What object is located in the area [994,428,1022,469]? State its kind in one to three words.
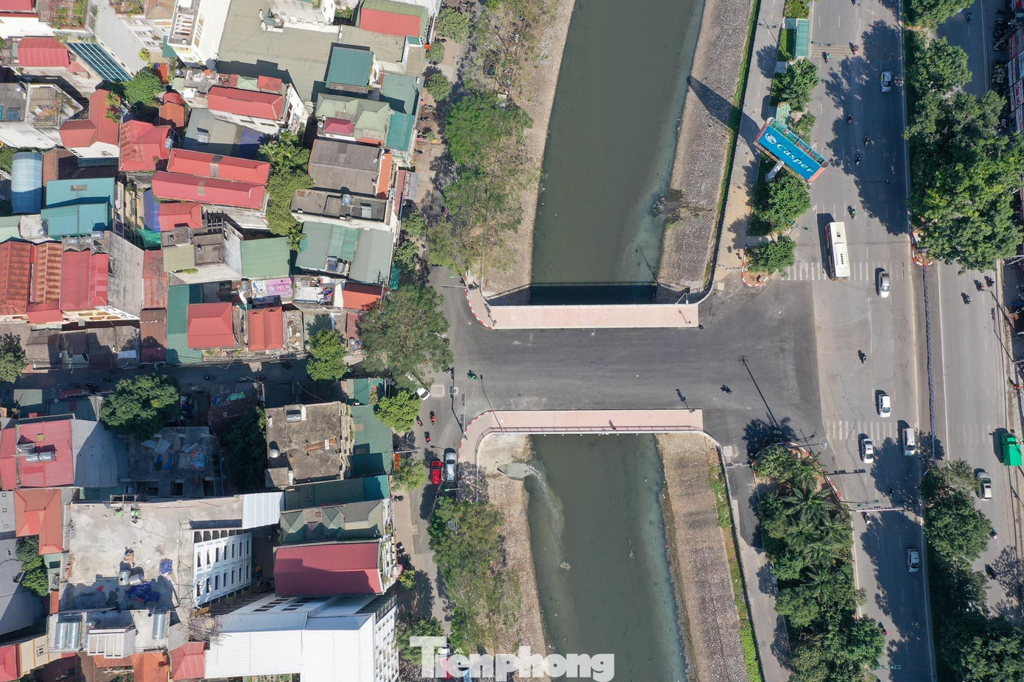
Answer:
truck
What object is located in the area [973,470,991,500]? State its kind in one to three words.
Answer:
car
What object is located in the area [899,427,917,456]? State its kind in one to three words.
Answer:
car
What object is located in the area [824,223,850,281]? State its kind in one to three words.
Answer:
bus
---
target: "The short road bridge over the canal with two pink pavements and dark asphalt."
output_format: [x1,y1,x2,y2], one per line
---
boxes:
[459,272,725,509]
